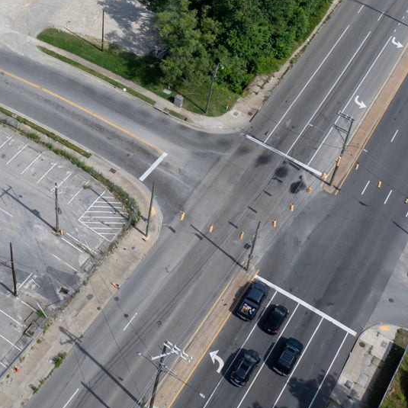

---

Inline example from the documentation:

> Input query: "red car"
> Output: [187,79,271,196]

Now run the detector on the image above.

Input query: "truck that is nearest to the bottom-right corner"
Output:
[265,333,304,384]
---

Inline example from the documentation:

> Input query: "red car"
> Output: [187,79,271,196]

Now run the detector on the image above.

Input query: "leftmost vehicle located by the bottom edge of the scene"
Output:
[227,346,261,391]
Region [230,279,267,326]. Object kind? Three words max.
truck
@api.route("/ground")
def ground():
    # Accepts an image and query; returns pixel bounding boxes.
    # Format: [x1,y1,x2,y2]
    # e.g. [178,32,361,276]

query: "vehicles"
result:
[259,302,290,341]
[227,346,261,391]
[230,279,267,326]
[265,333,304,384]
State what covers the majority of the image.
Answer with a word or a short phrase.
paved ground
